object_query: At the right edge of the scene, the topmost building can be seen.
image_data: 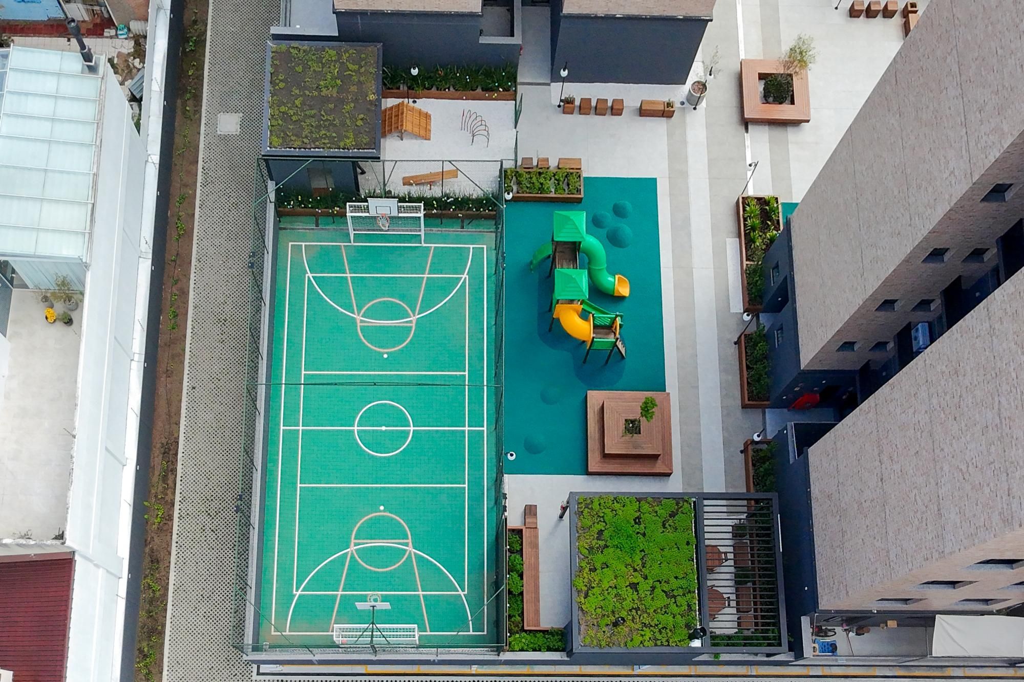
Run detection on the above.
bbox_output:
[761,0,1024,407]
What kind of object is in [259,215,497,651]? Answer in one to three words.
sports court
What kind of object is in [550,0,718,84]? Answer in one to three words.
building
